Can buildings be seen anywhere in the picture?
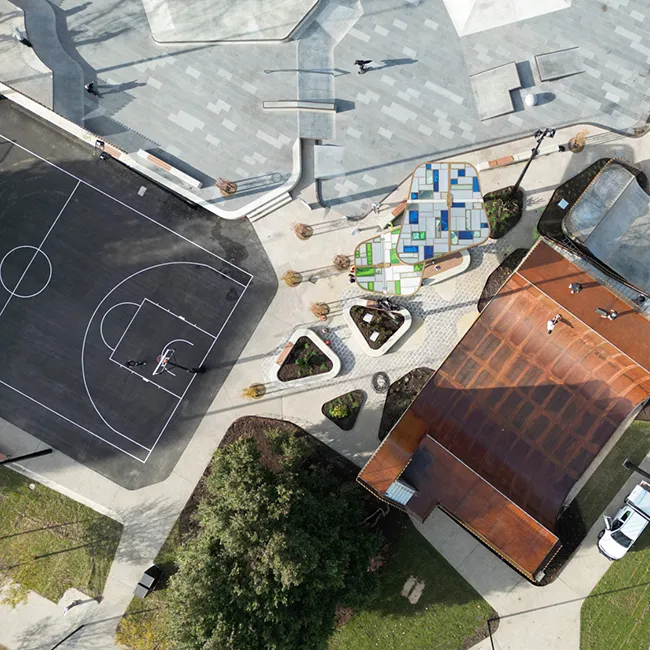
No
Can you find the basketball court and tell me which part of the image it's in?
left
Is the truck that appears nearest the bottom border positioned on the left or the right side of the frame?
right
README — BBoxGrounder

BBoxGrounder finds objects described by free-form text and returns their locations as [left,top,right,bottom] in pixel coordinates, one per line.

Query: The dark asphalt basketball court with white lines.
[0,98,279,490]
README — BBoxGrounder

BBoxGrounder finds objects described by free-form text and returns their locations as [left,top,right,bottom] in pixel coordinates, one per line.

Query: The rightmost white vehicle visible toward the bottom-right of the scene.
[598,474,650,562]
